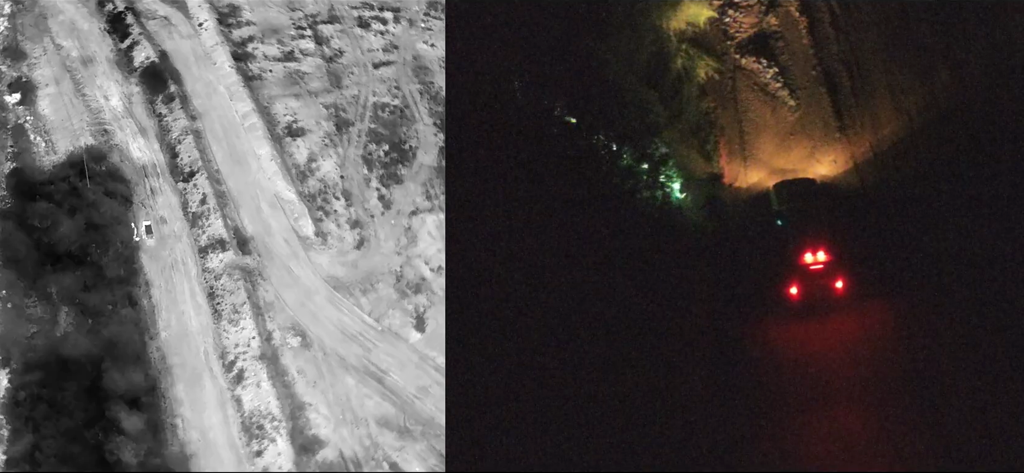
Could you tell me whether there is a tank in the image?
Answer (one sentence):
No, there appears to be no tank in this shot.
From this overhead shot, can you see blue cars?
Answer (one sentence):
No, no blue car is visible in the scene.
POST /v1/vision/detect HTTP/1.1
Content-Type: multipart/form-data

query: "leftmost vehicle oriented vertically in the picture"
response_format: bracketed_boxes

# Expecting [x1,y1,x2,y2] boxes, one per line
[143,217,156,241]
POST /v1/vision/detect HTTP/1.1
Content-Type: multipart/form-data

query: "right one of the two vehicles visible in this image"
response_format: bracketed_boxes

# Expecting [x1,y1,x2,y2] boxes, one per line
[765,181,846,302]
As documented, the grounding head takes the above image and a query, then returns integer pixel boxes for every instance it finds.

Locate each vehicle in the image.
[143,217,156,241]
[765,181,846,302]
